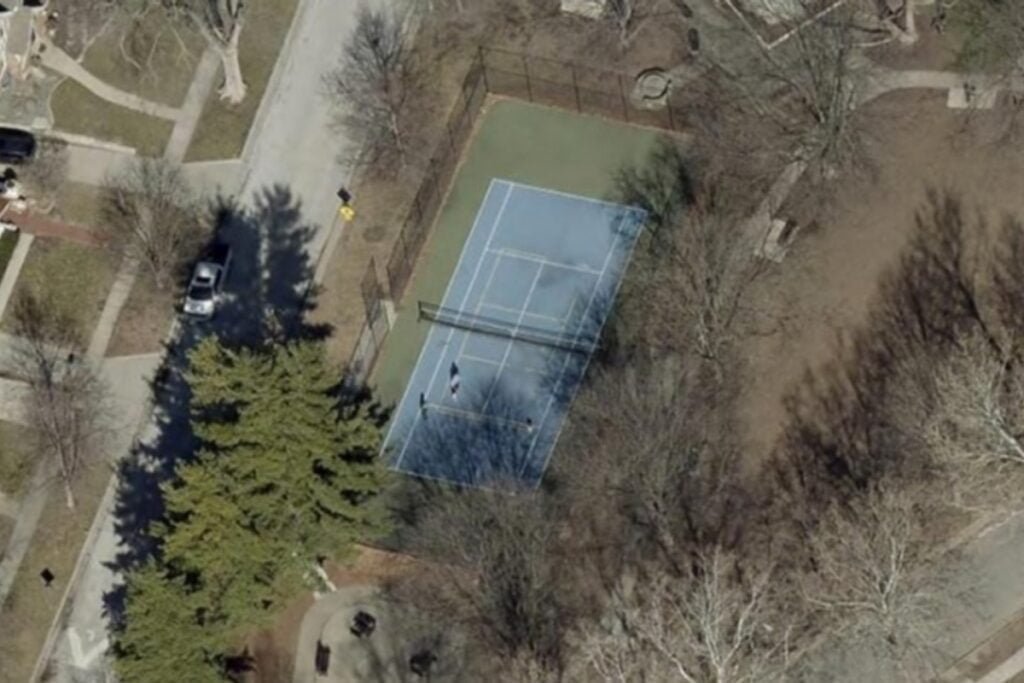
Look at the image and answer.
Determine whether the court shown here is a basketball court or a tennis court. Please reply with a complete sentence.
I'd say the court is a tennis court.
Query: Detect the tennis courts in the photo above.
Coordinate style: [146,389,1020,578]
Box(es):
[328,102,709,570]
